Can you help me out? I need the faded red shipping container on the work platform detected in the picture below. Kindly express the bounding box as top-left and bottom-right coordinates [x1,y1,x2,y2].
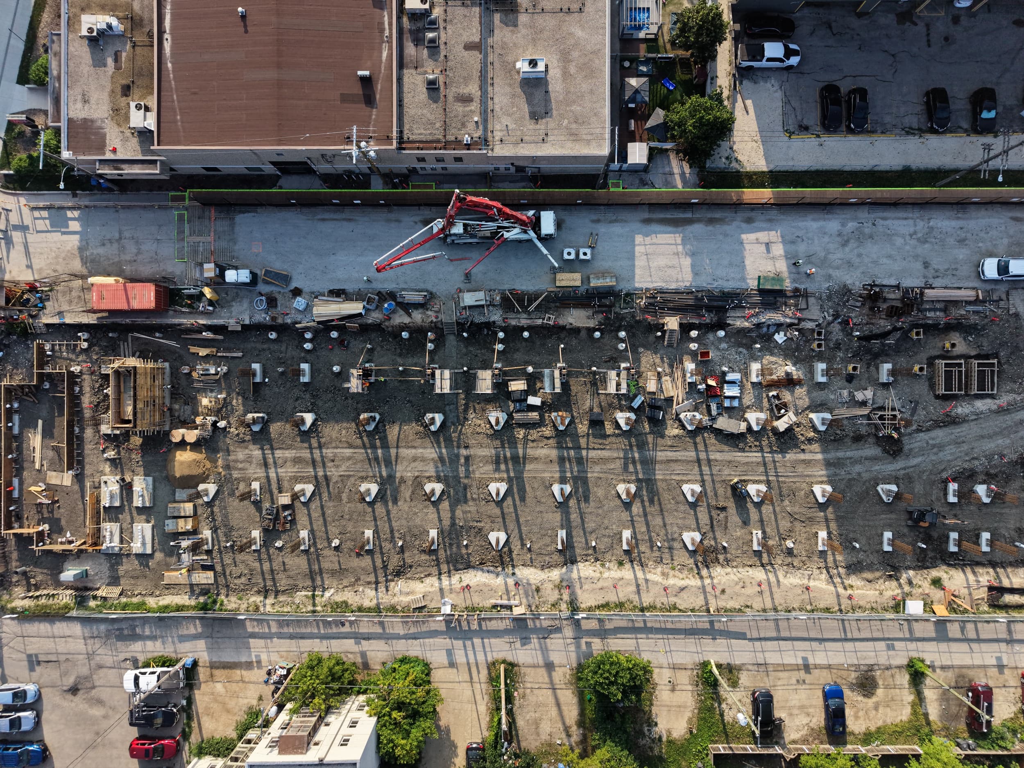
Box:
[92,283,168,312]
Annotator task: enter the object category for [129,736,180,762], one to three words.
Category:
car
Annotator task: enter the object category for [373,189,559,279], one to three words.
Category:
truck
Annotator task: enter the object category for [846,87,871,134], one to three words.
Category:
car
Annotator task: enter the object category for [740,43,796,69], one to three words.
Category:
truck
